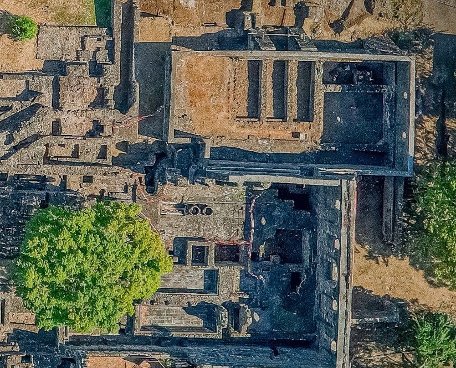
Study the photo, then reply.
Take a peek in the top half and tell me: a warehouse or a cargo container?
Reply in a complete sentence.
Looking in the top half, you will find a warehouse.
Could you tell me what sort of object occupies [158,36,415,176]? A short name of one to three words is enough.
warehouse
